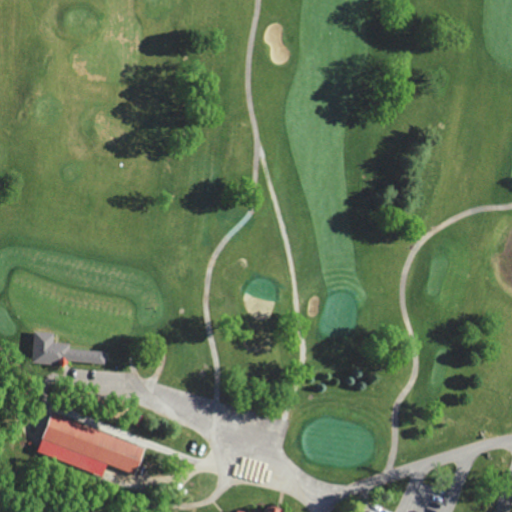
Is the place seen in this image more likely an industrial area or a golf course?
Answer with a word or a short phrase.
golf course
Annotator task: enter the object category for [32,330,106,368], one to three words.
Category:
building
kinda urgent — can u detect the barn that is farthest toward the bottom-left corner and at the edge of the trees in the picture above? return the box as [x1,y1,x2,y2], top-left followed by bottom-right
[36,416,144,481]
